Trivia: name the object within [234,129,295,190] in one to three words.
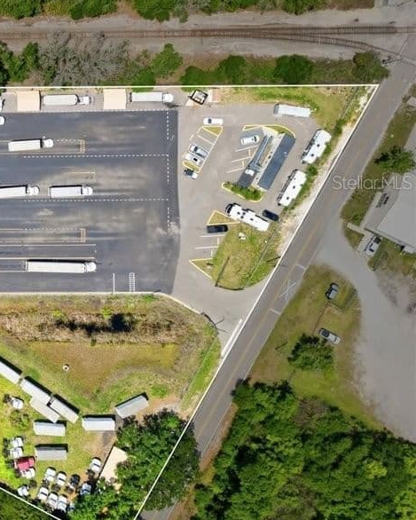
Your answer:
building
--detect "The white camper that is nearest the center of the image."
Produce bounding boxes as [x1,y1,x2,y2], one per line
[223,203,269,231]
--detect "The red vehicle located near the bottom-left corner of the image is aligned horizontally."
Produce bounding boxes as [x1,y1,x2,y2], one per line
[4,454,35,469]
